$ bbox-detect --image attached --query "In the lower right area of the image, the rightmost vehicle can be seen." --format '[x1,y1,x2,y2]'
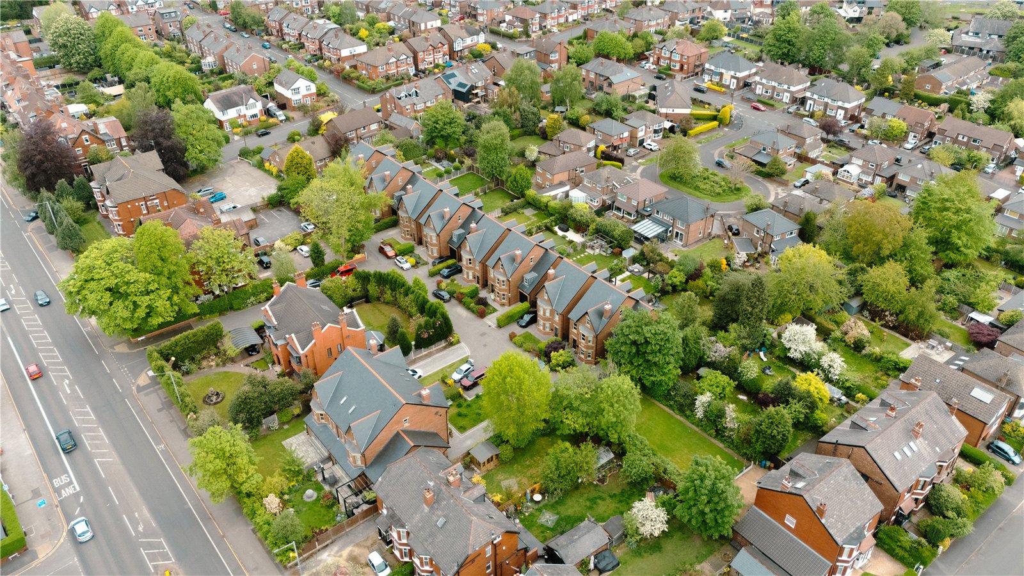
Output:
[987,439,1023,465]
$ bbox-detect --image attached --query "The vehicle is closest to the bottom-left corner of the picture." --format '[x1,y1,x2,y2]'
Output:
[68,515,94,547]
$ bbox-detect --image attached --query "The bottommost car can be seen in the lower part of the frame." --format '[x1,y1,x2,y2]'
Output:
[364,545,392,576]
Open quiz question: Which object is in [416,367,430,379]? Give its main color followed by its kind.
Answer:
white vehicle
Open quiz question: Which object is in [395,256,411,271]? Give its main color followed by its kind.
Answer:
white car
